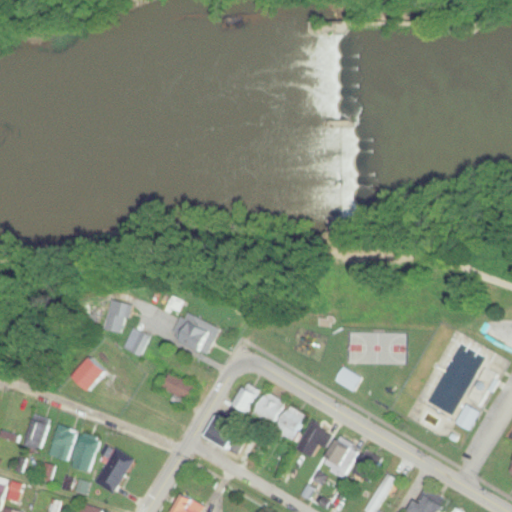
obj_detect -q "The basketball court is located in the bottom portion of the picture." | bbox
[348,332,408,366]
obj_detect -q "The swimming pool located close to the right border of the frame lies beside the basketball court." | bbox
[410,332,512,438]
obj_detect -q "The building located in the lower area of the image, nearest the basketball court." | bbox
[336,366,364,393]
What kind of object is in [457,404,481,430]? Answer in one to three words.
building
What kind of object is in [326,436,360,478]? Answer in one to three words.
house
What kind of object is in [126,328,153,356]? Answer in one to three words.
building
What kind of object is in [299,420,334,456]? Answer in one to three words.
house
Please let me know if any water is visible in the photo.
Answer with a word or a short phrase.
Yes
